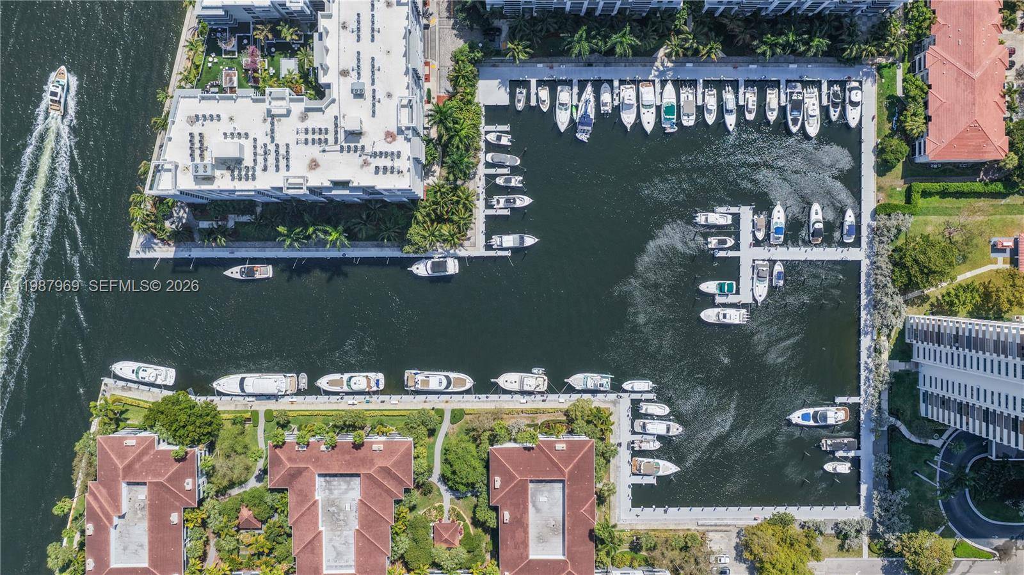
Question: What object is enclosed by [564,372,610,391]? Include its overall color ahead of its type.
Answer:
white boat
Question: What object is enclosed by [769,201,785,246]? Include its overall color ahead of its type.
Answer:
white boat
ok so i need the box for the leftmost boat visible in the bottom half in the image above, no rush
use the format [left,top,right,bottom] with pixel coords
[110,363,177,385]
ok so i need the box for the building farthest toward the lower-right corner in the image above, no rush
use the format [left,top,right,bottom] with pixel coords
[906,315,1024,450]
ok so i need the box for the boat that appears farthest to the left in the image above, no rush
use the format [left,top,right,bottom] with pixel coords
[50,66,68,119]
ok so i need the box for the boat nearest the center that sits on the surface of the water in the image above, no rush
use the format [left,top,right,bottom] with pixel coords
[491,234,540,249]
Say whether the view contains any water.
Yes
